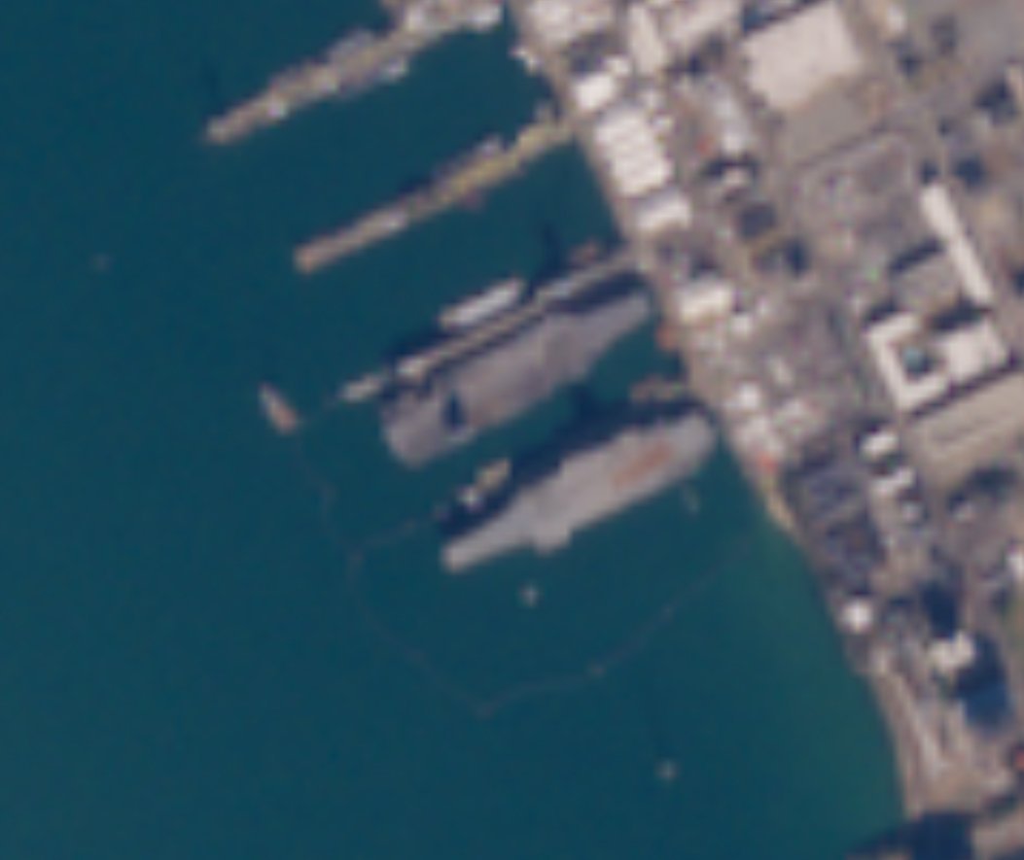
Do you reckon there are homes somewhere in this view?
Yes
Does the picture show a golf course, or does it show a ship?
ship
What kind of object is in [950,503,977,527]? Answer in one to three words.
house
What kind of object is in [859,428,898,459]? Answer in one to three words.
shed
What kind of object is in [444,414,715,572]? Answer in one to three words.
ship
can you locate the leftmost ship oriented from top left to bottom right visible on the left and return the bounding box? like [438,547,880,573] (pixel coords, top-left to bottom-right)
[262,390,300,432]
